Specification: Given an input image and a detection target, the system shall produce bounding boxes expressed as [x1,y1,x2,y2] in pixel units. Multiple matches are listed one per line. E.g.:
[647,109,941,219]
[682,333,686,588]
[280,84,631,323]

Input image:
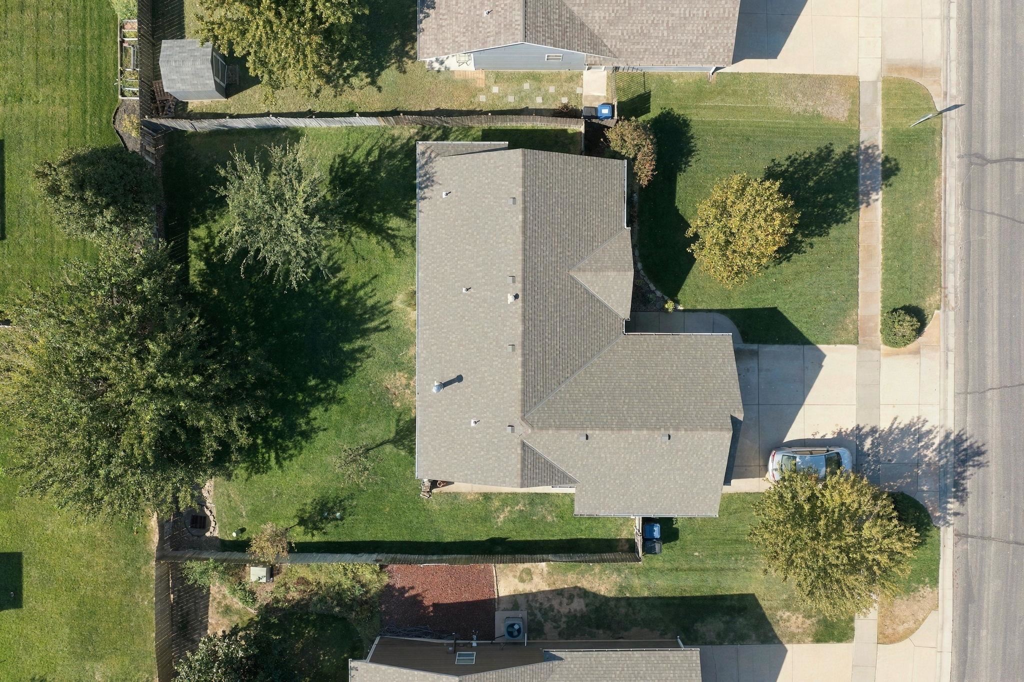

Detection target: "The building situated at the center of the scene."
[417,142,745,516]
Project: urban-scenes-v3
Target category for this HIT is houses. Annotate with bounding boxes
[417,142,745,516]
[349,631,703,682]
[418,0,741,80]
